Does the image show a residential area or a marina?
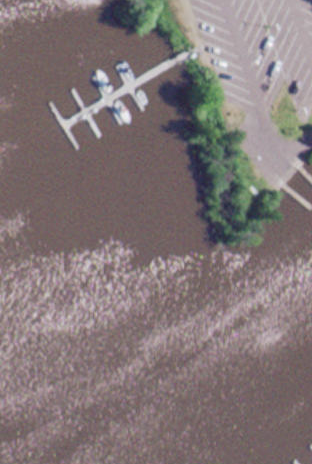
marina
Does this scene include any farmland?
No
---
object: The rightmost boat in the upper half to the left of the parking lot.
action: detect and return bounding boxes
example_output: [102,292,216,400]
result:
[136,88,150,108]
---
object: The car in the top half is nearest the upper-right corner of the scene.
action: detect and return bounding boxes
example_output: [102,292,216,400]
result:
[265,34,277,52]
